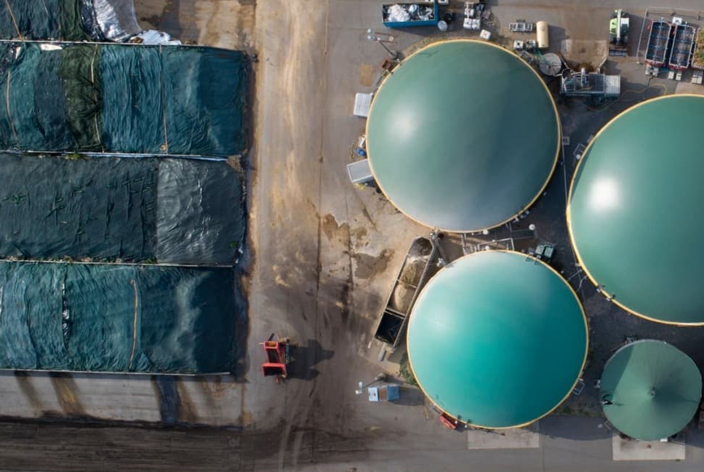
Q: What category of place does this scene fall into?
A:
industrial area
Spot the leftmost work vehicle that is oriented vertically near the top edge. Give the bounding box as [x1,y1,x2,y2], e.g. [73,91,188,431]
[609,8,628,61]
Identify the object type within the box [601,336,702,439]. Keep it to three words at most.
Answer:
storage tank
